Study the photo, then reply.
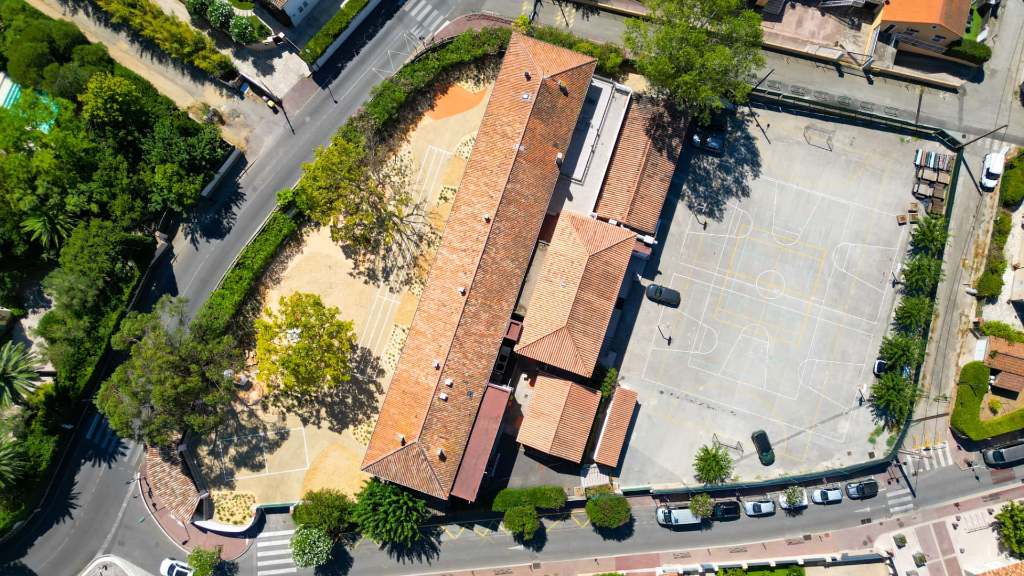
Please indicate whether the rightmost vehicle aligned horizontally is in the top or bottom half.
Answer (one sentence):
The bottom half of the photo is where the rightmost vehicle aligned horizontally is.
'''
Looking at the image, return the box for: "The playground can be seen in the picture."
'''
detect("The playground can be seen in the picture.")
[154,57,631,506]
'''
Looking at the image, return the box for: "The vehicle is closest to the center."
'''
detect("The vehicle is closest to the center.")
[645,283,682,306]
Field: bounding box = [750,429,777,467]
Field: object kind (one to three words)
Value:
car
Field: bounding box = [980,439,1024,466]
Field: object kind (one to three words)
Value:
vehicle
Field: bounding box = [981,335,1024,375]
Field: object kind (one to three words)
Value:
house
